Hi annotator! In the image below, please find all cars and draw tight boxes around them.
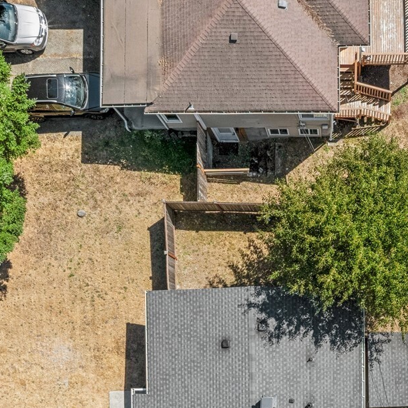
[0,0,52,52]
[17,68,118,123]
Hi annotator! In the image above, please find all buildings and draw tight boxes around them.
[130,288,368,408]
[99,0,373,149]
